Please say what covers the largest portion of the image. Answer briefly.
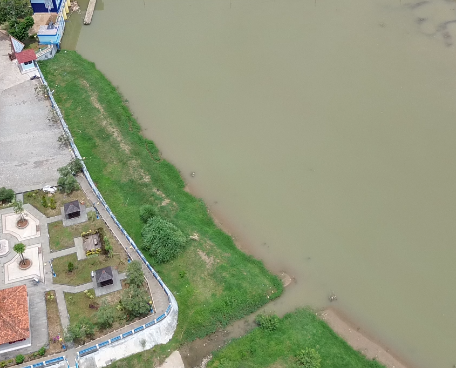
water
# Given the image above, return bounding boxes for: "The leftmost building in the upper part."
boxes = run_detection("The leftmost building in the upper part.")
[15,49,39,75]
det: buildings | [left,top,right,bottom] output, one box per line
[0,283,34,359]
[62,198,82,222]
[93,264,116,292]
[15,49,39,75]
[33,16,67,56]
[29,0,64,14]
